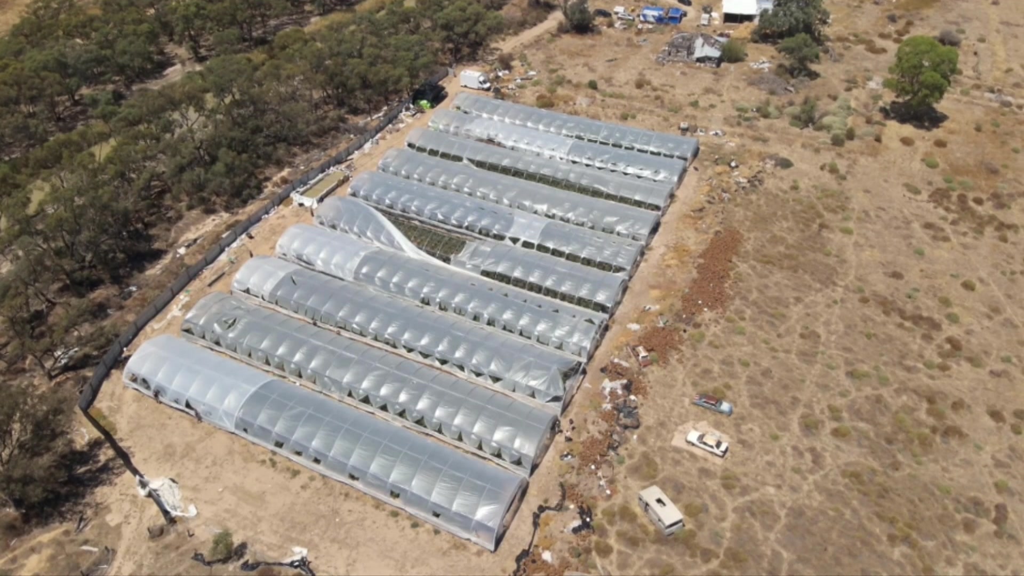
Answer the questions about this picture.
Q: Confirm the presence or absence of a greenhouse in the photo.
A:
Yes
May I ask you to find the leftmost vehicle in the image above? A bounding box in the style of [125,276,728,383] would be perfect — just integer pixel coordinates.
[461,69,494,91]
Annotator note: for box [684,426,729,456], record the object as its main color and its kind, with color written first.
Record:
white car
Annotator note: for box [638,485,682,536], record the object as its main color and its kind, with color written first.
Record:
white vehicle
